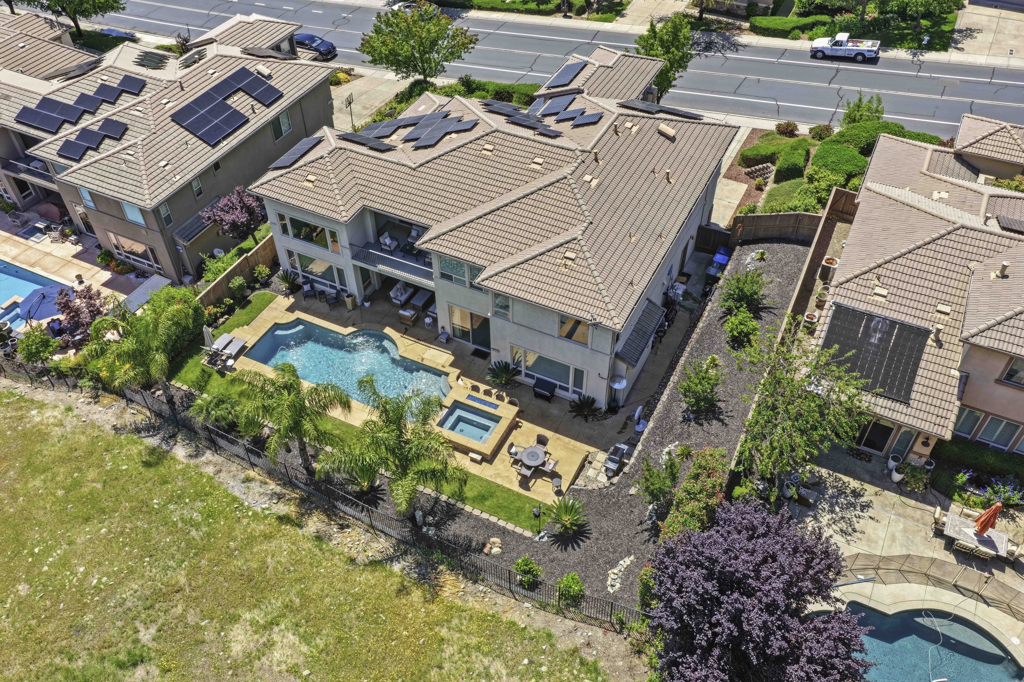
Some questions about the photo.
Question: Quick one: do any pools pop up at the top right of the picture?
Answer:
No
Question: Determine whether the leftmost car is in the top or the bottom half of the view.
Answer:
top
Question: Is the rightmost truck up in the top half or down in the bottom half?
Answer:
top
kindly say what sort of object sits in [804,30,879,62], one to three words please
truck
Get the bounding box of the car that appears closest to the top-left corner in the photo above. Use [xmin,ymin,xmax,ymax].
[300,34,336,60]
